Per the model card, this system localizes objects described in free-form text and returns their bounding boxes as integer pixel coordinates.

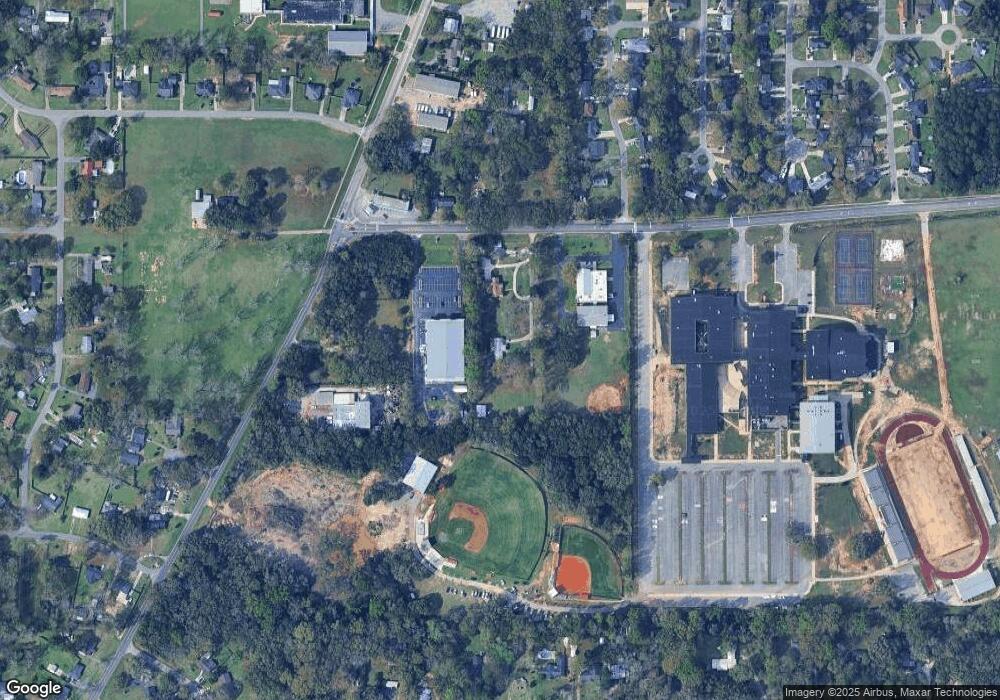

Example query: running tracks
[872,413,992,595]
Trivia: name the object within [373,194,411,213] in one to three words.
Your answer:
building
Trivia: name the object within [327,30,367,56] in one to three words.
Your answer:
barn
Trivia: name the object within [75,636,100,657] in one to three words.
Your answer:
house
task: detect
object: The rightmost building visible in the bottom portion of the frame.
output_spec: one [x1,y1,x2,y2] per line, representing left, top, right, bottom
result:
[955,569,996,598]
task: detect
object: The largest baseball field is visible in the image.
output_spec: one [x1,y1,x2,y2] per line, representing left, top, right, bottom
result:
[430,421,597,580]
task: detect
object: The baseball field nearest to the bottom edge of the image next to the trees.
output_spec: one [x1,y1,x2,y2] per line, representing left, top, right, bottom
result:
[555,524,628,599]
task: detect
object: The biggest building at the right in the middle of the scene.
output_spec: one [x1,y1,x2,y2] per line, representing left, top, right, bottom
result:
[671,290,805,464]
